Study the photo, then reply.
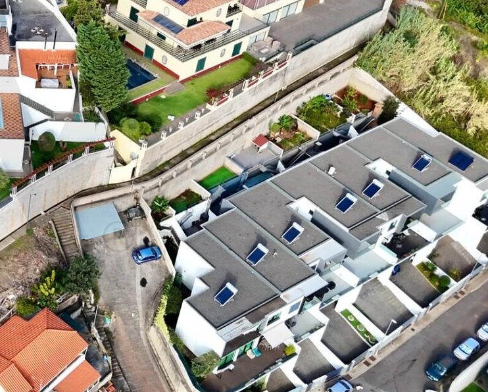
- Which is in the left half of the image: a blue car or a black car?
blue car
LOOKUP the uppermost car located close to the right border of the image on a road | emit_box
[474,320,488,342]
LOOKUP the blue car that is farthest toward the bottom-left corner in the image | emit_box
[130,245,162,262]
